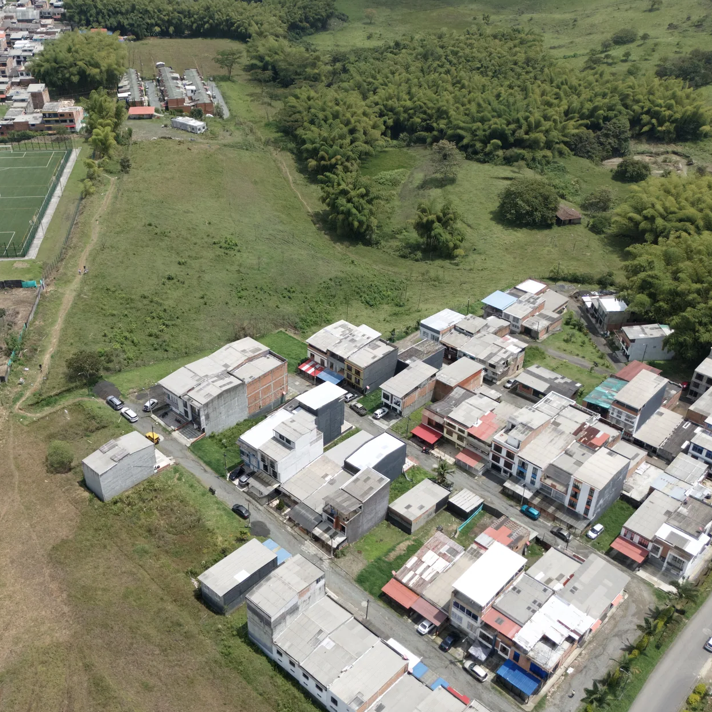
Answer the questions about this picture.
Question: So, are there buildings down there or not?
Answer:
Yes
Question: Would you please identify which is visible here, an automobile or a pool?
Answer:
automobile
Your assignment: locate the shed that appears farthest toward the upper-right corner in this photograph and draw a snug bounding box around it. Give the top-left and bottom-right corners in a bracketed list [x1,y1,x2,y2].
[550,207,582,224]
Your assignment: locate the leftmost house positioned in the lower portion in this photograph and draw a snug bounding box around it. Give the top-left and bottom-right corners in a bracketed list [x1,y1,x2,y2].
[80,432,177,500]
